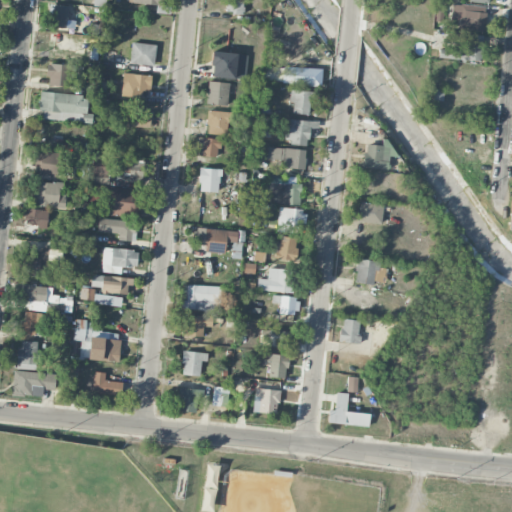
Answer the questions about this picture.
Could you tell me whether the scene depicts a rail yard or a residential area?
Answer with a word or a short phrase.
residential area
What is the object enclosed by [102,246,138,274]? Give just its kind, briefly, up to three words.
house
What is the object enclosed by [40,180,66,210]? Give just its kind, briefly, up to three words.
house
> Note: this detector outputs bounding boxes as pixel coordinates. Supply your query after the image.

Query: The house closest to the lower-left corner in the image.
[11,372,56,397]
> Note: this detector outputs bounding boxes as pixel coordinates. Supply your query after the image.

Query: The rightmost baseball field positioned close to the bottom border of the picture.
[227,471,378,512]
